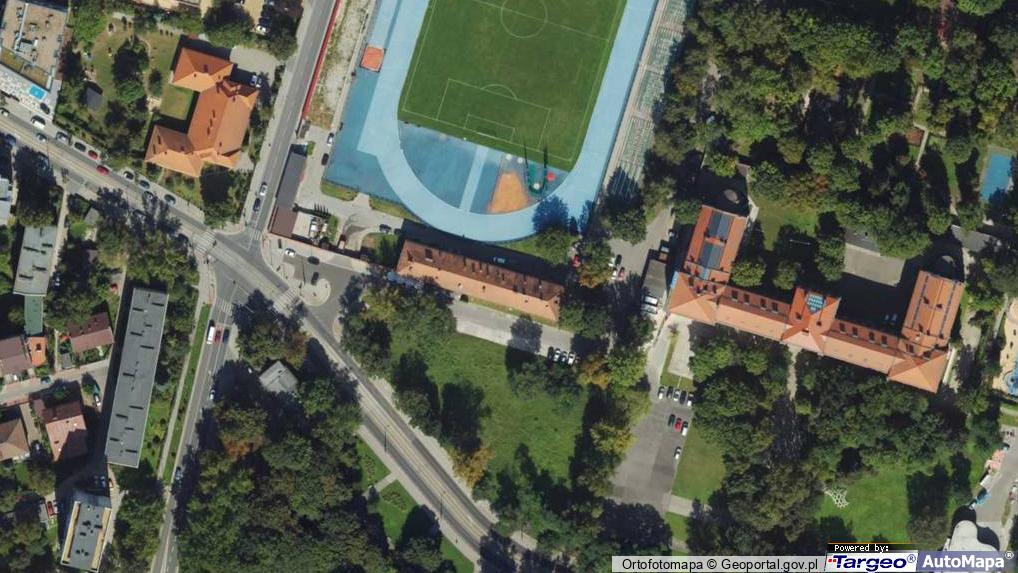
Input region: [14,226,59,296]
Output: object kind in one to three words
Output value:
building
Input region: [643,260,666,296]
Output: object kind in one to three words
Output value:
shed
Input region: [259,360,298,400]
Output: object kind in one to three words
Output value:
house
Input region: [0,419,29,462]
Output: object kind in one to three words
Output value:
house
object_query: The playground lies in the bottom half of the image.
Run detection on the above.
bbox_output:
[993,303,1018,397]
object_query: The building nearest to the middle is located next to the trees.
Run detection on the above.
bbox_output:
[398,240,564,320]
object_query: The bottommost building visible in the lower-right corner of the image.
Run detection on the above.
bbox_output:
[947,519,1003,573]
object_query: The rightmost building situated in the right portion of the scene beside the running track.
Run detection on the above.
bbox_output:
[668,207,965,393]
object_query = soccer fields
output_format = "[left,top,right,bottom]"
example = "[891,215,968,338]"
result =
[396,0,626,172]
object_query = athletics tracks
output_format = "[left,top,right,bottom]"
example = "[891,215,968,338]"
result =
[322,0,655,244]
